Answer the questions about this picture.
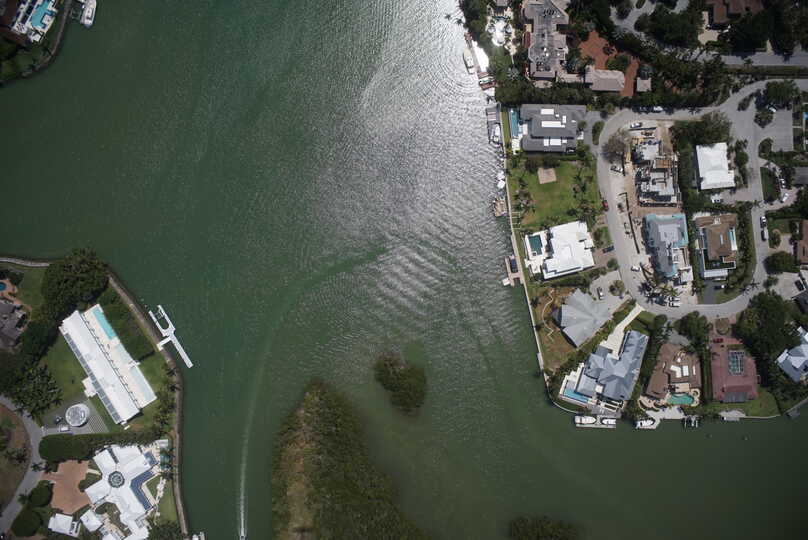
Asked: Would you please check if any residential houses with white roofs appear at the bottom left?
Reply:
Yes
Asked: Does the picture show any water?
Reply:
Yes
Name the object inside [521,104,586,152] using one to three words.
house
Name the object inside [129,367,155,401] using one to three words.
swimming pool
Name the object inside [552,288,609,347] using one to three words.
house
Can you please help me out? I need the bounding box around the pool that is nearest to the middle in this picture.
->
[528,234,543,256]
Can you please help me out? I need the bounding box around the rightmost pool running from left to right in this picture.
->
[666,392,695,407]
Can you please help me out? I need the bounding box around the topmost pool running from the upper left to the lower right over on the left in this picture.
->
[92,306,117,341]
